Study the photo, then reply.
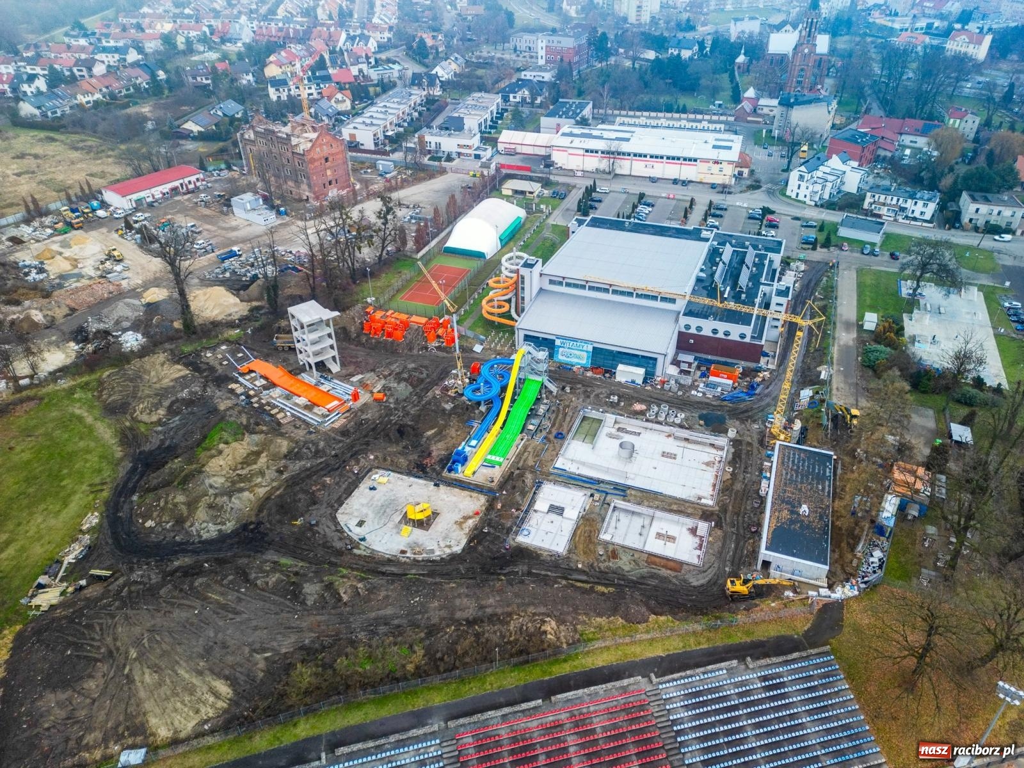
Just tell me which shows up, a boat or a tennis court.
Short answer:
tennis court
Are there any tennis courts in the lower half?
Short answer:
No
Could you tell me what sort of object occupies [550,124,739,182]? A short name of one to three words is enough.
building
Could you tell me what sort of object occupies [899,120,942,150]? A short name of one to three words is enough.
barn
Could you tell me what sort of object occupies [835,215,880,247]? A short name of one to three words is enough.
house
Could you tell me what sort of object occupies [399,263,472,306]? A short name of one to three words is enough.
tennis court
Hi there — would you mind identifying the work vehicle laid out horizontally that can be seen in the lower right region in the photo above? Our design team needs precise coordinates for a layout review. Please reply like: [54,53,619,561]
[728,574,790,604]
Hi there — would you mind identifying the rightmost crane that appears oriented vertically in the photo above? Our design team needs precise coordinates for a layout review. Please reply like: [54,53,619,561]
[419,262,473,394]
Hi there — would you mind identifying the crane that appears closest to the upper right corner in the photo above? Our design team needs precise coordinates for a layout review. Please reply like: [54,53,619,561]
[584,275,836,443]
